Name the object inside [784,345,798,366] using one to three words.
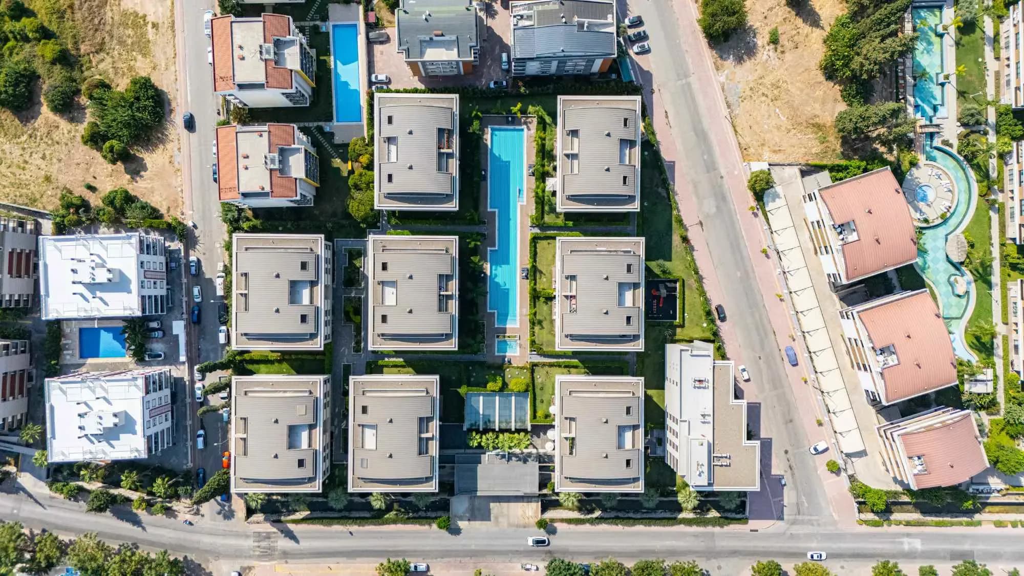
car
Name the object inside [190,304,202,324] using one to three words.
vehicle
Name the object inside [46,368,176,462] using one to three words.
building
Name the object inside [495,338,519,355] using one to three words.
swimming pool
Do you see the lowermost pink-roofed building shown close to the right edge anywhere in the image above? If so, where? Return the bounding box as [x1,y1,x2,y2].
[876,403,991,490]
